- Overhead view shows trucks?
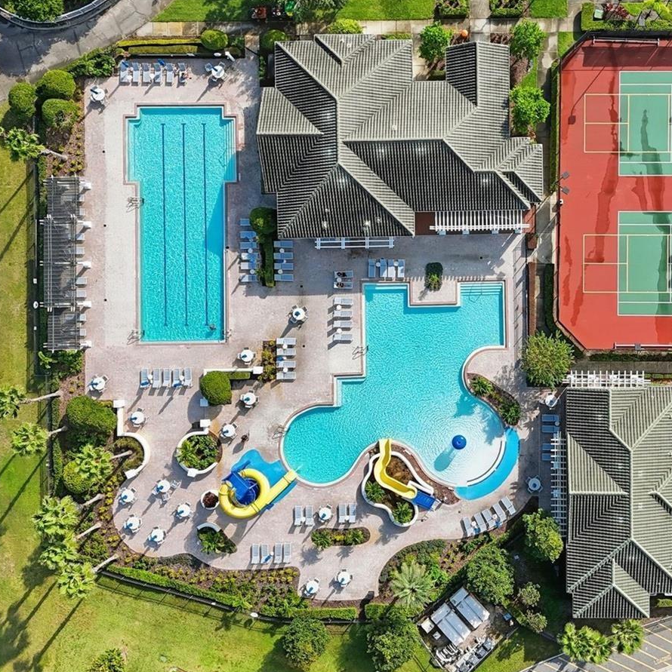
No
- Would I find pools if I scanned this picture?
Yes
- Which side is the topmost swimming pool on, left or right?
left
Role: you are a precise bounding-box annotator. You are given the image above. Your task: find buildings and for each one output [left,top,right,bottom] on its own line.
[566,386,672,619]
[250,32,543,238]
